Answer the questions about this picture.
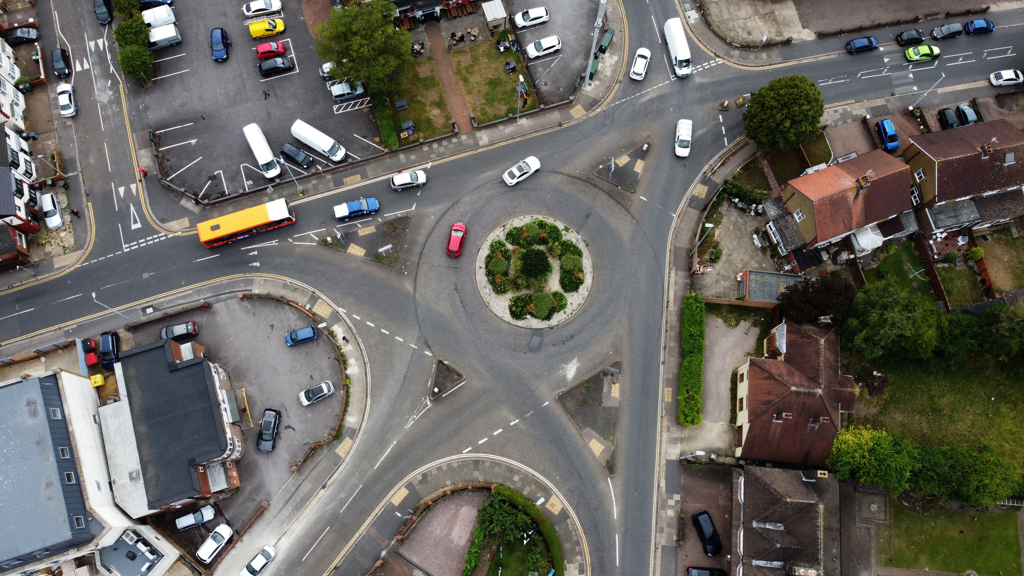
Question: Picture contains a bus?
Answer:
Yes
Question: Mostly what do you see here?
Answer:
paved ground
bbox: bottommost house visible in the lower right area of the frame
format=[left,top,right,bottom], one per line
[726,466,840,576]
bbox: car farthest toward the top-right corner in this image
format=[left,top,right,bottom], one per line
[965,20,994,38]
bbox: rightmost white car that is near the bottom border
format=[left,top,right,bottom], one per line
[240,543,278,576]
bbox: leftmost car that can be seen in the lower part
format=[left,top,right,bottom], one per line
[98,331,120,371]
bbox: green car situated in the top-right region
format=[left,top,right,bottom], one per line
[904,44,940,63]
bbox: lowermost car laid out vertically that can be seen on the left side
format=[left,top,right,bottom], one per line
[255,408,282,452]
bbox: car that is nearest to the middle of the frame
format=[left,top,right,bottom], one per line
[447,223,466,258]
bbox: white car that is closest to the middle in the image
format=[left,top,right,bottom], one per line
[502,157,541,186]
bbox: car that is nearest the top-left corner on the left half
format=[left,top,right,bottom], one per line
[7,27,40,47]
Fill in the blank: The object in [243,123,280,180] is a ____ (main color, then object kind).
white van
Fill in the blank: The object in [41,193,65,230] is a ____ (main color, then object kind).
white car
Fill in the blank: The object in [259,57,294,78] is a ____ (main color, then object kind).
black car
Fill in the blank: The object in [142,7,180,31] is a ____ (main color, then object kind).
white vehicle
